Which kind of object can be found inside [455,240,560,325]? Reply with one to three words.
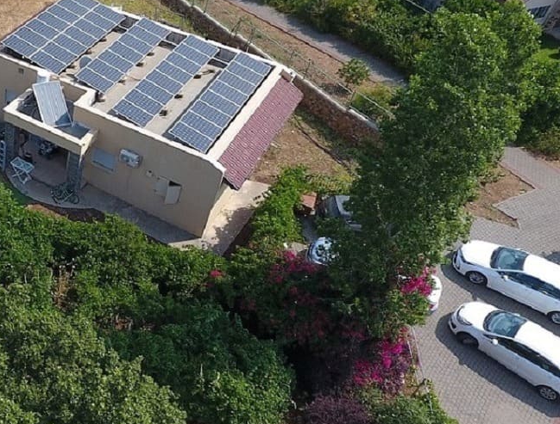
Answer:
car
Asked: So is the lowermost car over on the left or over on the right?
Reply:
right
